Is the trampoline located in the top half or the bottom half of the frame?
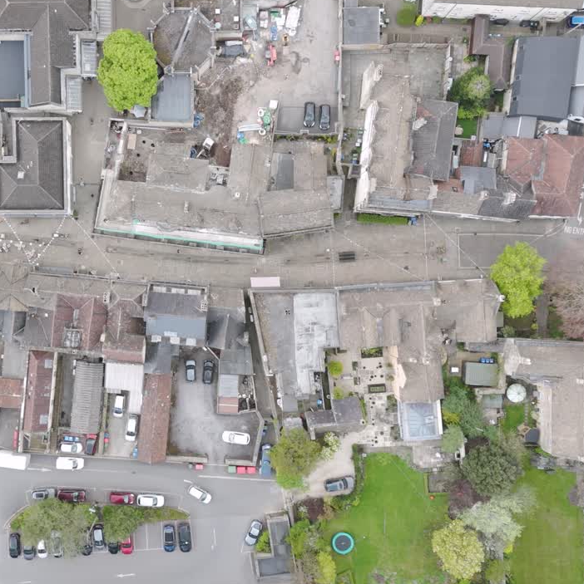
bottom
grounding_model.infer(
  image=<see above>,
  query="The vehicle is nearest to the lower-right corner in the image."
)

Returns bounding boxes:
[324,476,353,493]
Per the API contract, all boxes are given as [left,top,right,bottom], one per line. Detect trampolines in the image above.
[331,532,353,555]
